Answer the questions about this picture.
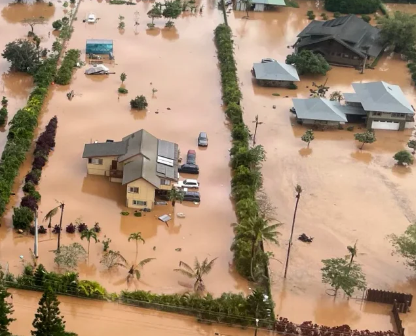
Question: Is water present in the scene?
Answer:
Yes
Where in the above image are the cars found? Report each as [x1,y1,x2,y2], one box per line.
[177,192,202,202]
[178,179,200,189]
[177,163,200,174]
[186,150,196,162]
[154,192,175,201]
[197,132,206,145]
[285,108,296,117]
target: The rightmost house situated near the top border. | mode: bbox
[295,10,387,68]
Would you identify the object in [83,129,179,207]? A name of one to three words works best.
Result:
house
